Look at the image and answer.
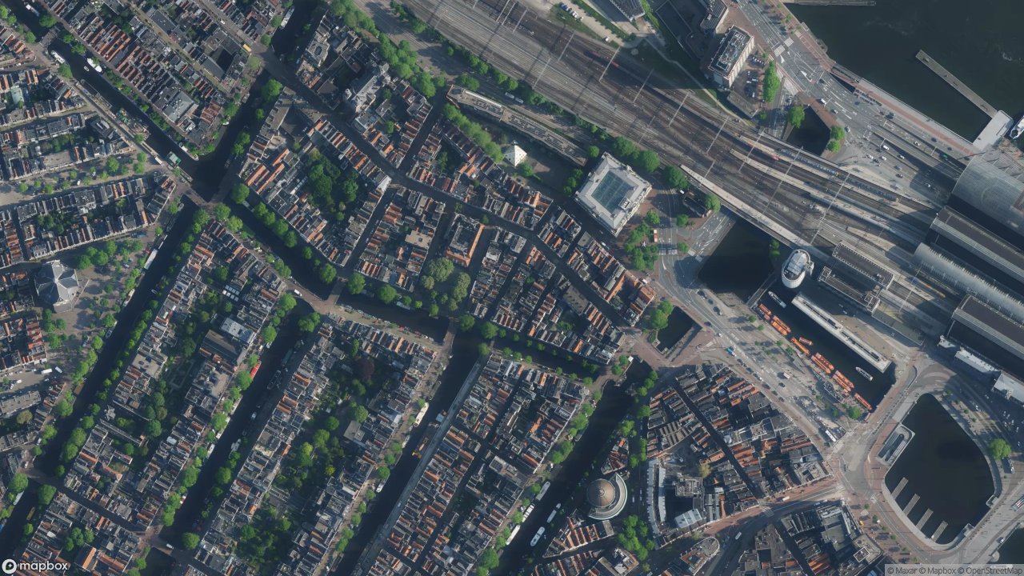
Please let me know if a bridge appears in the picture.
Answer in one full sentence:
Yes, there is a bridge in the image.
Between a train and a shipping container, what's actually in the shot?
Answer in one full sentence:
It is a train that can be seen here.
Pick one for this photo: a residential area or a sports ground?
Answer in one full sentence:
This looks like a residential area.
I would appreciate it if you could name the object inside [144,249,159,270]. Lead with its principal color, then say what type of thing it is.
white boat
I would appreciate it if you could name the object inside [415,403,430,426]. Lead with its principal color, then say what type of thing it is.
white boat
